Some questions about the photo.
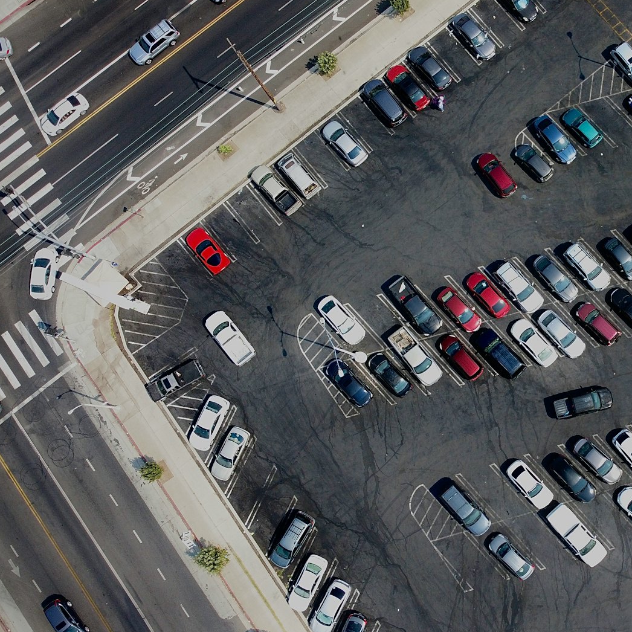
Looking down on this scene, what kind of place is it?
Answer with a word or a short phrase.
parking lot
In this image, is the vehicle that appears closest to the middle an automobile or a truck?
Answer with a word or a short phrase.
automobile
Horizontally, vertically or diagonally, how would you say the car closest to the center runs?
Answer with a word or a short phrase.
diagonally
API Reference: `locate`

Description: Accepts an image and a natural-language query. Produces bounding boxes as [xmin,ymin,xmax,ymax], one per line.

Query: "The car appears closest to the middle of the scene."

[316,292,368,347]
